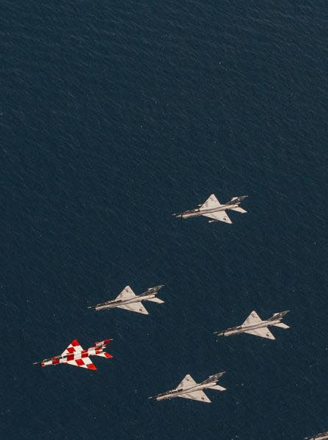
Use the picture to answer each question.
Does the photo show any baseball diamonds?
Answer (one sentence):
No, I can't see a single baseball diamond in this photo.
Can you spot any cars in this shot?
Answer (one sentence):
No, there appears to be no car in this shot.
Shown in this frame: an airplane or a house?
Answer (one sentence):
I can see an airplane in this picture.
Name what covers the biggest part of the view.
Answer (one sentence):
The scene is dominated by water.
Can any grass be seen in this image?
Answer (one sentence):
No, there's no grass in this view.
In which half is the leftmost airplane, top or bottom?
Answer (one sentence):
It is in the bottom half that the leftmost airplane appears.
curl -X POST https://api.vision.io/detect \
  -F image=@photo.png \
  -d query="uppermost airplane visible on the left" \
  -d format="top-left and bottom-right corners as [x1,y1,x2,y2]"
[88,285,163,314]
